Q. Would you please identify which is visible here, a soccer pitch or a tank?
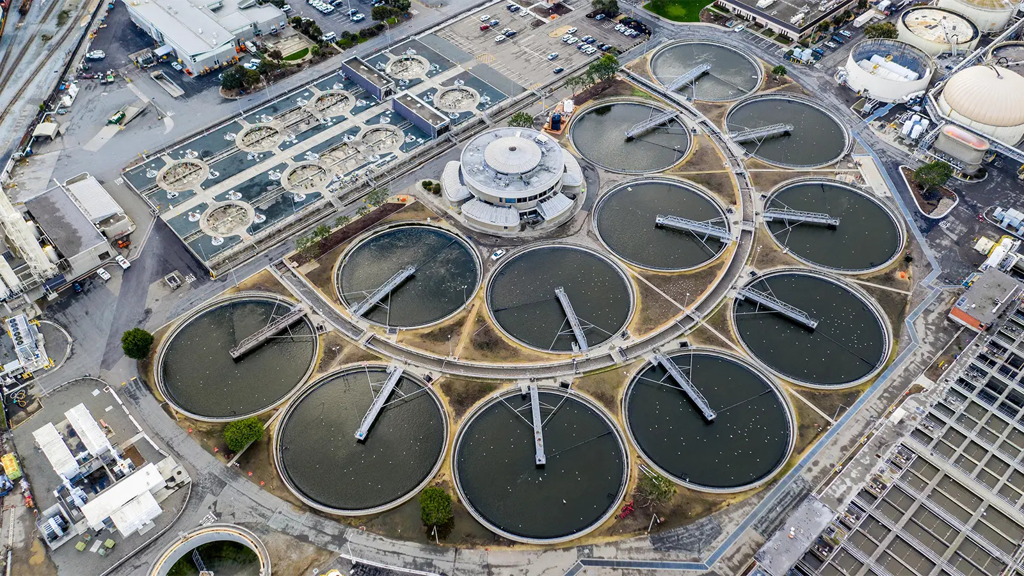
tank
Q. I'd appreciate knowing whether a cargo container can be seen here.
Yes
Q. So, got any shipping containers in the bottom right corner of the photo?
No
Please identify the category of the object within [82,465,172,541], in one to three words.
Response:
shed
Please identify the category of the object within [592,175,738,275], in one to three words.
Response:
storage tank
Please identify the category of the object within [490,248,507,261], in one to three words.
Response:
vehicle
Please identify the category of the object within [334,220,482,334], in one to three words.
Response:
storage tank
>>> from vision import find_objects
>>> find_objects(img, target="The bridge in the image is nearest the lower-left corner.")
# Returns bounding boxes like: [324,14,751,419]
[228,298,314,357]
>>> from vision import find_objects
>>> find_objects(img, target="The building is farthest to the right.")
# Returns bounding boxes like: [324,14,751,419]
[942,265,1024,343]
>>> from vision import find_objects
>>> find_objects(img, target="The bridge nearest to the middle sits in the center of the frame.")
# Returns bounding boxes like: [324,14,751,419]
[548,284,611,359]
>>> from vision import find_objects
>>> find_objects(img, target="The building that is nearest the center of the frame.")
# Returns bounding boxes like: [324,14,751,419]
[442,126,586,231]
